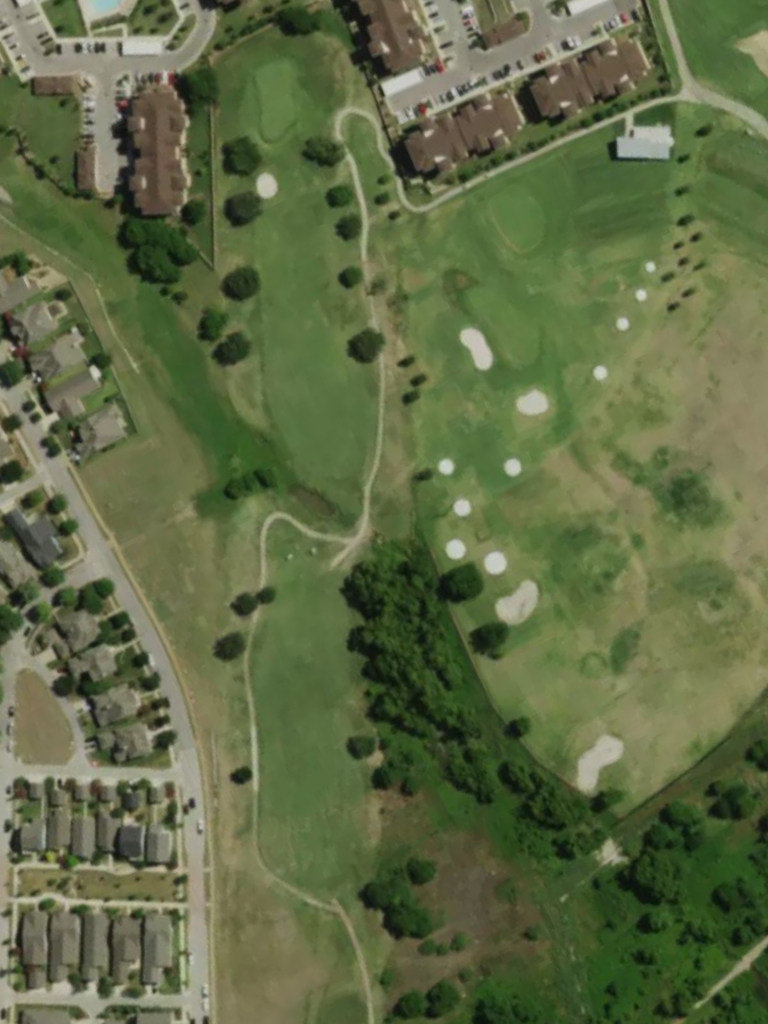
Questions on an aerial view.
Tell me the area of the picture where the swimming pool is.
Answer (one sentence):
The swimming pool appears toward the top left of the photo.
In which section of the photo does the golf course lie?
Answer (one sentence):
The golf course appears toward the center of the photo.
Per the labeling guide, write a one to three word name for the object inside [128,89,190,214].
building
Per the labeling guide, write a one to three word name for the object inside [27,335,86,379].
house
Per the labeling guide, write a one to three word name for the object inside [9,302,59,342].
house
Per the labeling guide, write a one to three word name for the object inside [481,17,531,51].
building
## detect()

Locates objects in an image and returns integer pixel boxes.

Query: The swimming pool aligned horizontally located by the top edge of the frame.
[82,0,138,22]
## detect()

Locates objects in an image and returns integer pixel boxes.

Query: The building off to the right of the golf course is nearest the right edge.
[617,126,675,158]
